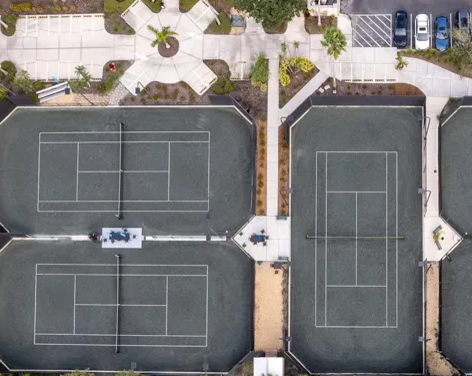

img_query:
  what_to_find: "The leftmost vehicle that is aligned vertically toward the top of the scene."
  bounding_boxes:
[393,14,409,48]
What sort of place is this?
sports ground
